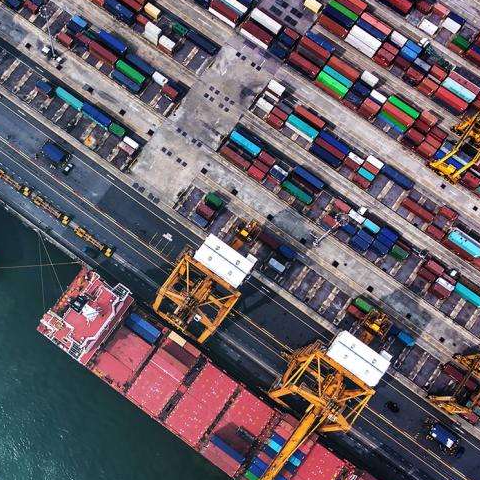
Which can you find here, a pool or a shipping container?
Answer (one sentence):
There is a shipping container in the scene.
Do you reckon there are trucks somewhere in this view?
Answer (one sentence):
Yes, there's a truck here.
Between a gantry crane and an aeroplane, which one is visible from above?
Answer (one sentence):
There is a gantry crane in the scene.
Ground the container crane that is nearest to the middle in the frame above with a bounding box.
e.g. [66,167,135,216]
[151,233,259,345]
